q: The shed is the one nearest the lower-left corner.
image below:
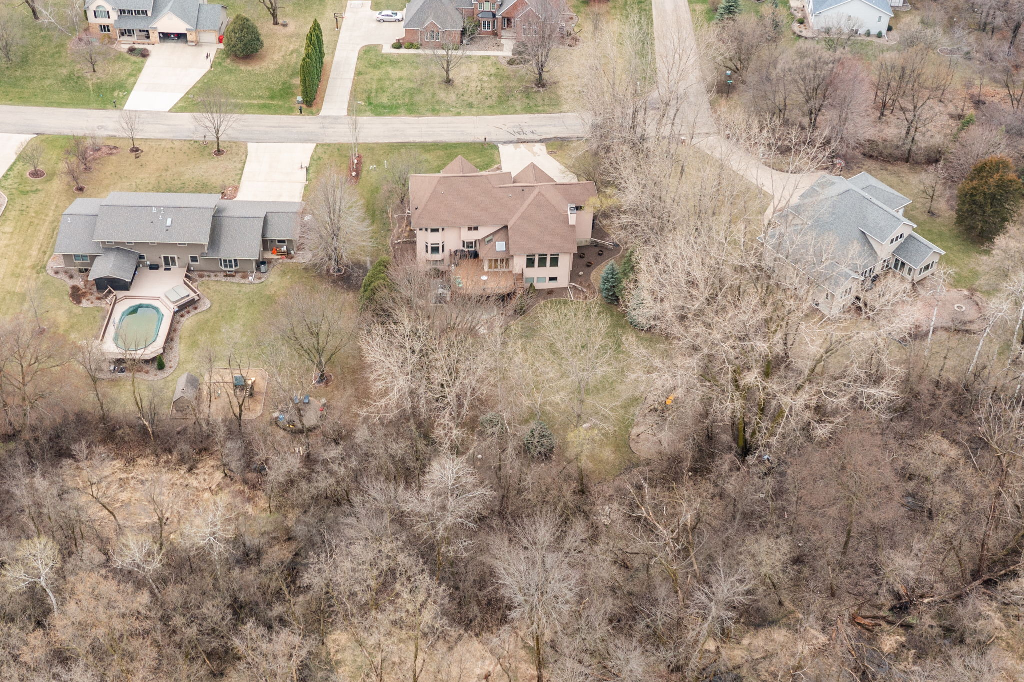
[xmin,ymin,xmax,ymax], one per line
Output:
[166,375,199,418]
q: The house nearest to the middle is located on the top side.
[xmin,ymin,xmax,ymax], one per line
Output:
[408,154,619,299]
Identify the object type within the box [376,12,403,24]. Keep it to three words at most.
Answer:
vehicle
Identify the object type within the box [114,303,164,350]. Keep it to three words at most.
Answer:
swimming pool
